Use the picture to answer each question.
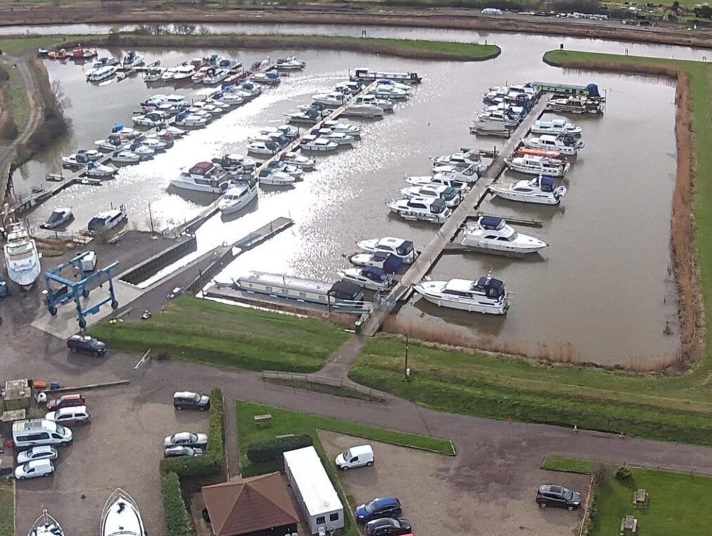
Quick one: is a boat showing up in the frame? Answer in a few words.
Yes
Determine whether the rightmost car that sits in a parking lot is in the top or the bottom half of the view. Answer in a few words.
bottom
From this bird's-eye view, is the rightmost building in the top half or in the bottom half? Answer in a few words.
bottom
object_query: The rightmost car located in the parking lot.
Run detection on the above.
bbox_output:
[535,485,584,514]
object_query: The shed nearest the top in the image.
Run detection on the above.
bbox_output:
[1,376,29,408]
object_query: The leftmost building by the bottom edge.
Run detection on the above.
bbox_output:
[199,471,300,536]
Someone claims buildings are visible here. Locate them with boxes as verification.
[1,376,29,408]
[282,445,344,536]
[199,471,300,536]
